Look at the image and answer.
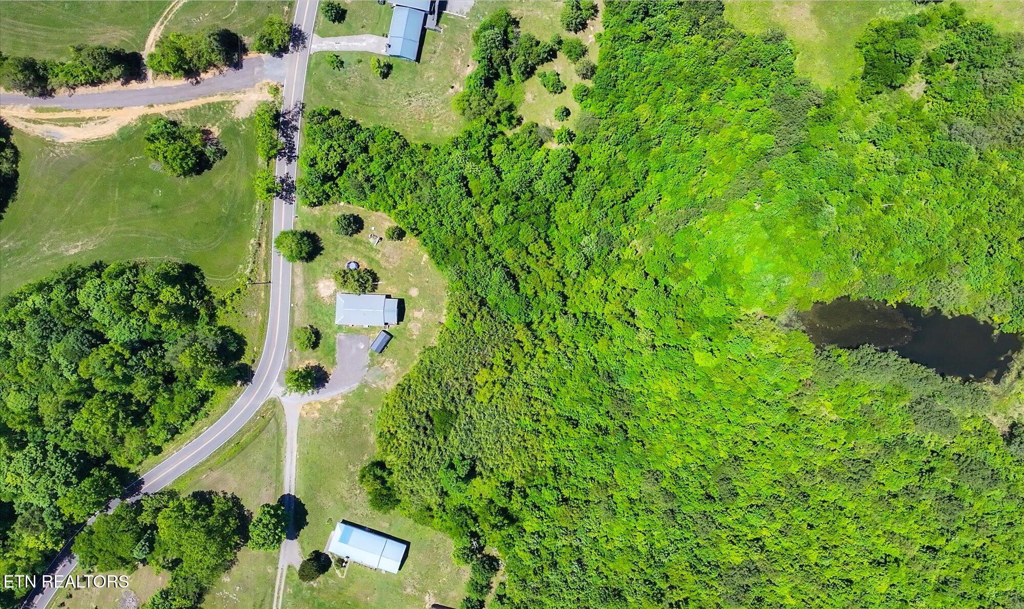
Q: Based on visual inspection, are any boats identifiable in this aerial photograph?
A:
No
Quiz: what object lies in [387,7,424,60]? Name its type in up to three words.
building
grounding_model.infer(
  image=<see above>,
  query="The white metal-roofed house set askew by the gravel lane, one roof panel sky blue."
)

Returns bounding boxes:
[329,522,406,574]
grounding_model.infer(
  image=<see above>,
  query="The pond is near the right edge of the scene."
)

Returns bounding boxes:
[794,296,1021,381]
